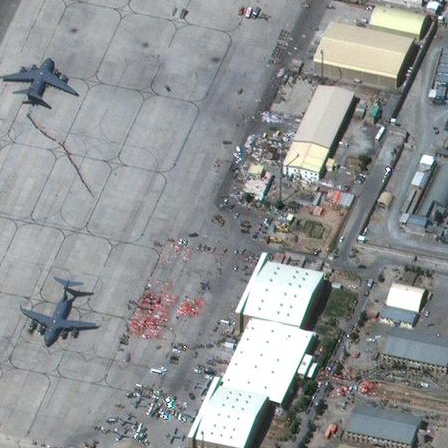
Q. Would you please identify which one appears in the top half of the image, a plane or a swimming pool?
plane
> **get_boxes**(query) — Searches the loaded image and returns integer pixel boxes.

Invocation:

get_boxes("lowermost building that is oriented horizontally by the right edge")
[345,404,426,448]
